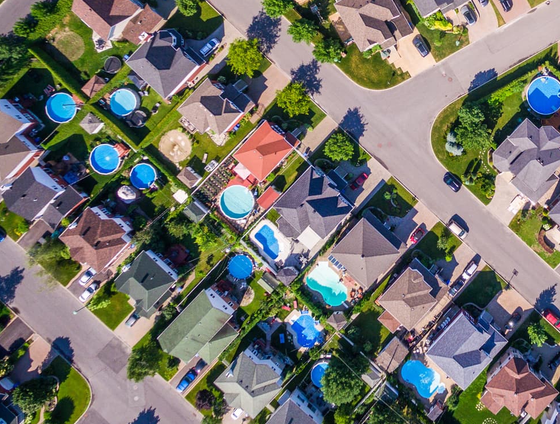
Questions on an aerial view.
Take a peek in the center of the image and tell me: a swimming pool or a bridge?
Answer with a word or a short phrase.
swimming pool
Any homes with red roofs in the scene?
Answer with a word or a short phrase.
Yes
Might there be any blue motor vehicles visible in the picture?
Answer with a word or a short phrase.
Yes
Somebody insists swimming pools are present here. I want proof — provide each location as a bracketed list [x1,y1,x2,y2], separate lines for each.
[290,313,324,350]
[108,88,142,119]
[308,361,331,388]
[45,92,80,123]
[527,75,560,114]
[89,143,123,175]
[129,162,159,190]
[399,357,444,401]
[252,222,281,261]
[219,185,256,220]
[305,259,350,308]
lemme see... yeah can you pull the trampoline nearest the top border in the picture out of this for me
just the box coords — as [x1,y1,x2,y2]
[104,57,122,73]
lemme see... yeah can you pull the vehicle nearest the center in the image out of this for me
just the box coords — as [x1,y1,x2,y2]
[347,169,372,194]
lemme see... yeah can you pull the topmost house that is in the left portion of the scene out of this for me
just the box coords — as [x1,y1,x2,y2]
[72,0,168,45]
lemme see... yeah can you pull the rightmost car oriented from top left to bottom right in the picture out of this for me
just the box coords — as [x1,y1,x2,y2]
[541,307,560,328]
